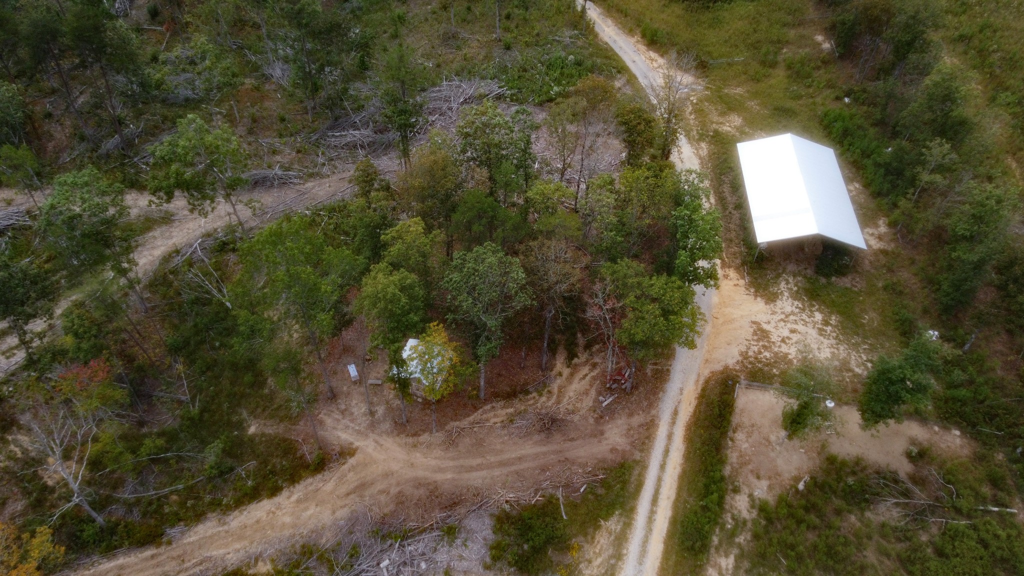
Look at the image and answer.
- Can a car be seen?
No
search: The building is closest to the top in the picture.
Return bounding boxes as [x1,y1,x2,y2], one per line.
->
[736,134,869,268]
